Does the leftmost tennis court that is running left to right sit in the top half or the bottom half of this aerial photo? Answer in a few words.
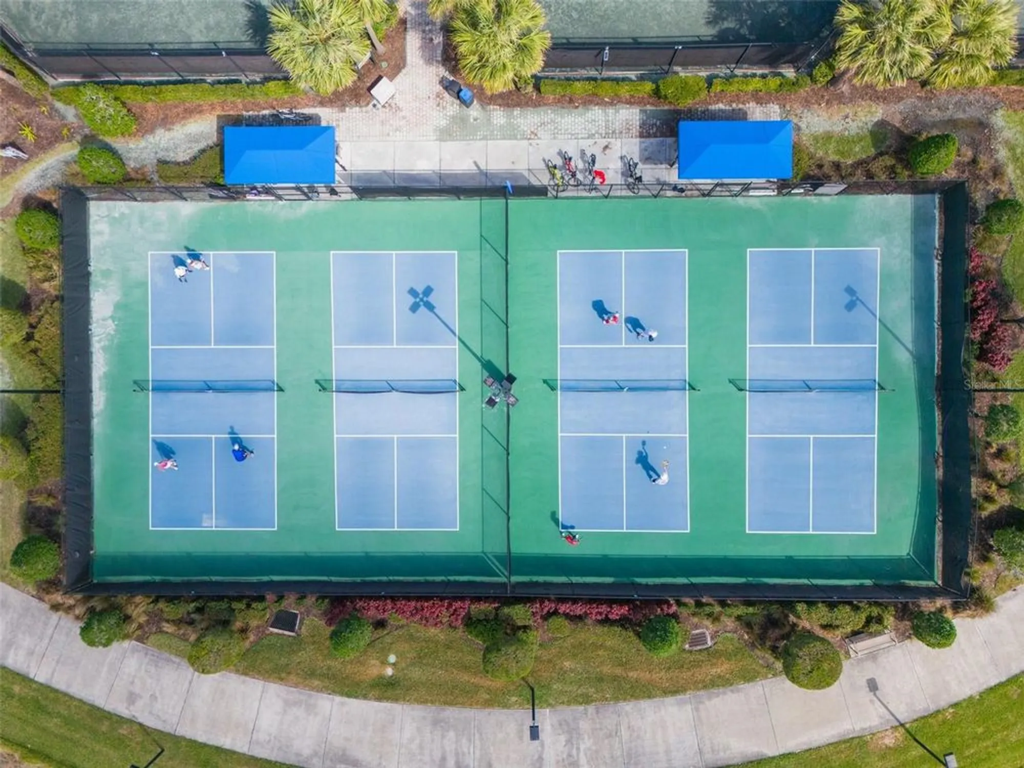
top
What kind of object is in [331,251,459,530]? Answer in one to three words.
sports court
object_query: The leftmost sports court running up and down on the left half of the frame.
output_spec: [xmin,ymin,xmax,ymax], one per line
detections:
[149,251,277,530]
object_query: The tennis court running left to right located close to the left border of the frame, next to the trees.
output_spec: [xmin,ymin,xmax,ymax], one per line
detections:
[0,0,328,78]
